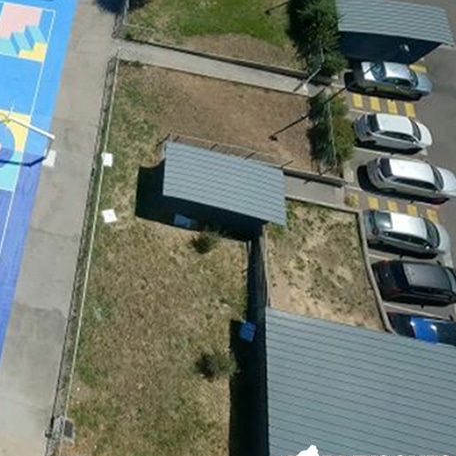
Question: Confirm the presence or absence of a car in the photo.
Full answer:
Yes, the picture does show a car.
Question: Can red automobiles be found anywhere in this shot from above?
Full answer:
No, the photo shows no red automobile.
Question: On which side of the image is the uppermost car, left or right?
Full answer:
It is on the right.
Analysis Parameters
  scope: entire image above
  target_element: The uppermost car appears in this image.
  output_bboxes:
[344,64,432,104]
